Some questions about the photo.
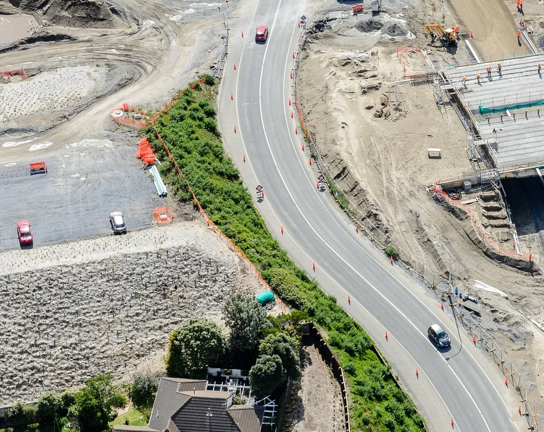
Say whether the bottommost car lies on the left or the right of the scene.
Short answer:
right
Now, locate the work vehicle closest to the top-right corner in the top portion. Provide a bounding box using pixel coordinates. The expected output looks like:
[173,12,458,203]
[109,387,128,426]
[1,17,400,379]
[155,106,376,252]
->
[421,19,461,47]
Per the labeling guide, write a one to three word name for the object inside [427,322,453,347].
car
